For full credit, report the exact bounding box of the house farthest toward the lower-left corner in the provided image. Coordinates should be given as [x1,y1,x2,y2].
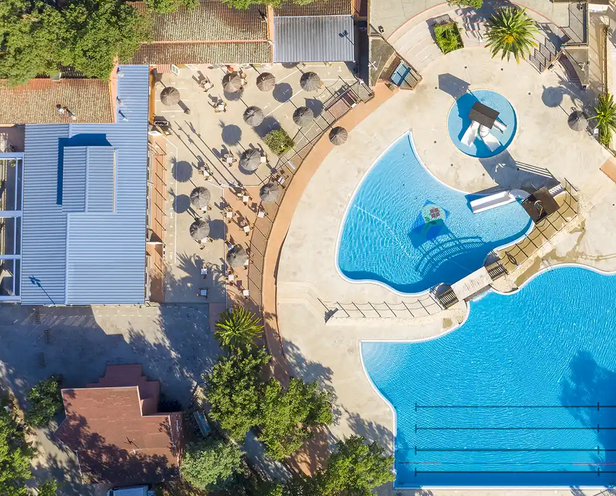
[53,383,196,485]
